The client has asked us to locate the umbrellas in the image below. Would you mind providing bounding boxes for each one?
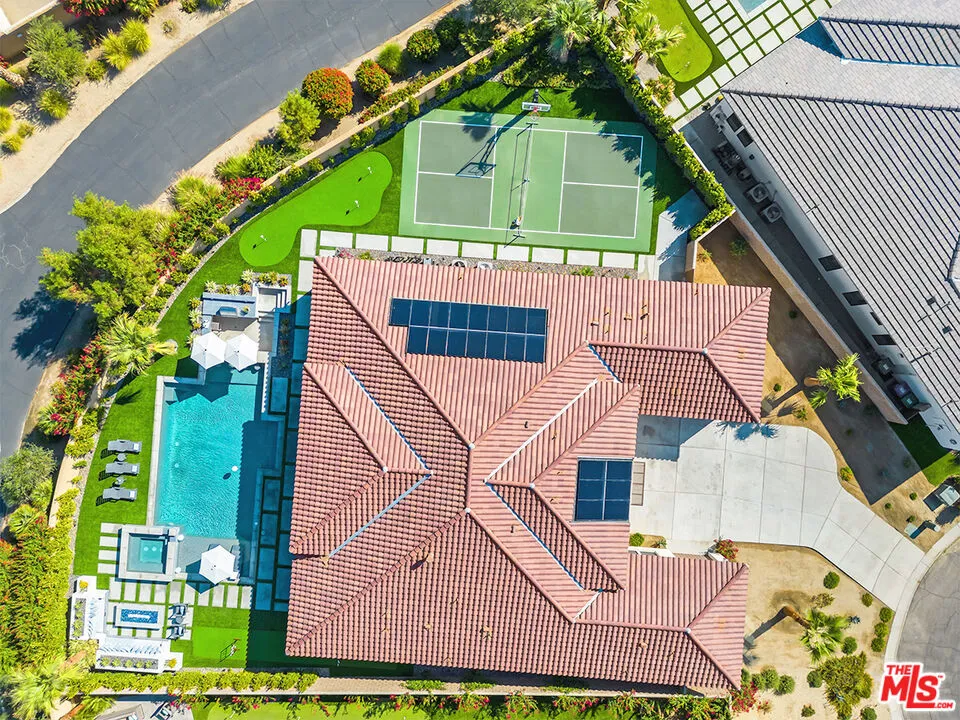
[191,330,227,369]
[225,332,261,370]
[202,545,236,583]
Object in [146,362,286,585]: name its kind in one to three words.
swimming pool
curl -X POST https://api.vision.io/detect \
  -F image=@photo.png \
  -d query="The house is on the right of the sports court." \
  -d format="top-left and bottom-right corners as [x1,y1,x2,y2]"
[709,0,960,448]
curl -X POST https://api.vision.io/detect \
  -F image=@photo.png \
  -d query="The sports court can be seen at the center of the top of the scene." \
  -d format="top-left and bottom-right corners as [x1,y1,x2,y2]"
[399,109,657,251]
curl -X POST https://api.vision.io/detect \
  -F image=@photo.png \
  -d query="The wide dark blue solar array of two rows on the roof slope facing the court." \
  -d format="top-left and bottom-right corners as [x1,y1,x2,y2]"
[390,298,548,365]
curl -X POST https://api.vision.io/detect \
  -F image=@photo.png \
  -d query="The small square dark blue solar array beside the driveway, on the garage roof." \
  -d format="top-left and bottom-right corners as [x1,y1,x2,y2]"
[574,459,632,520]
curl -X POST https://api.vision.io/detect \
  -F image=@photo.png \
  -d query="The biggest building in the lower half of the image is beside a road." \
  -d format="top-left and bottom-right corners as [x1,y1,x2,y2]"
[283,255,772,693]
